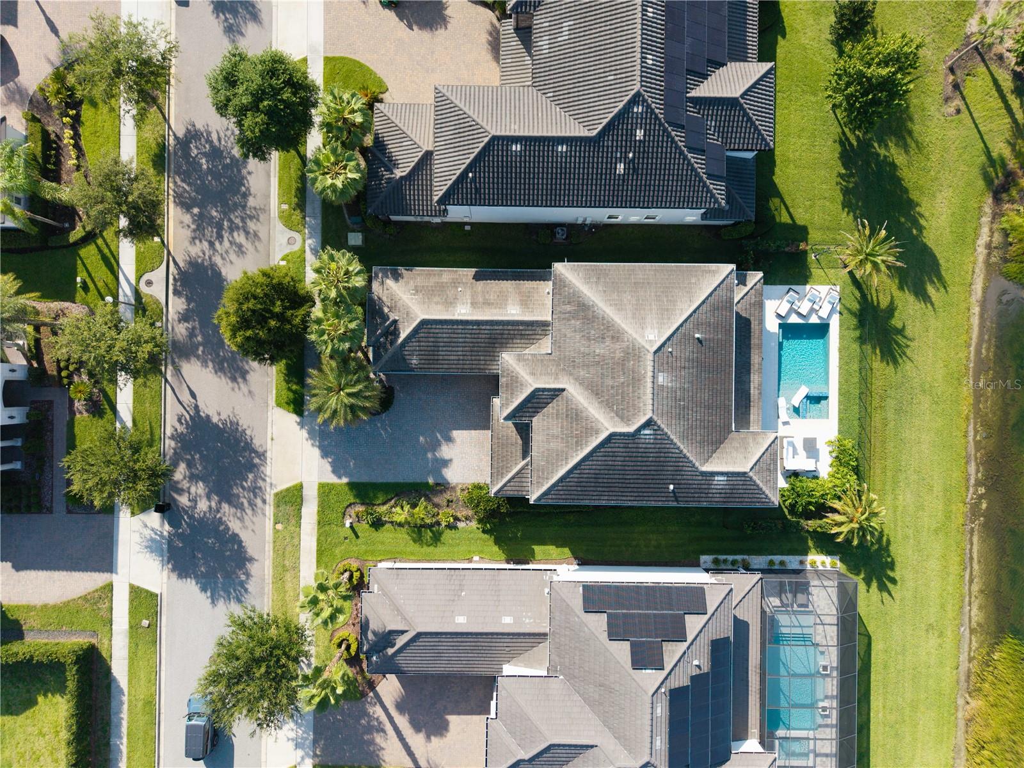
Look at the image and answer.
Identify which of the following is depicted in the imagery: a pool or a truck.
pool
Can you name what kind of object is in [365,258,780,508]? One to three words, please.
house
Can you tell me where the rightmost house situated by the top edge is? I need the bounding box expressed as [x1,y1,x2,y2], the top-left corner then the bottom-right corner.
[366,0,776,226]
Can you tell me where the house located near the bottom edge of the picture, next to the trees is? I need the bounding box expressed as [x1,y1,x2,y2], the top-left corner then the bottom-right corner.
[360,564,778,768]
